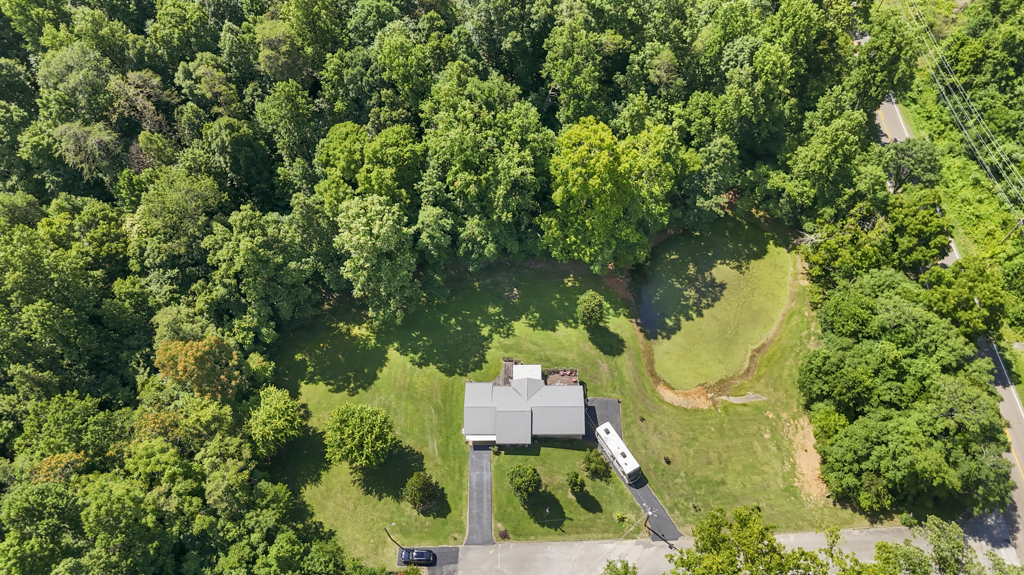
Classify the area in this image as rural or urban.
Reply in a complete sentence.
This place is rural.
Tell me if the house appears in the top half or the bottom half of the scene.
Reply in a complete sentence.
The house sits in the bottom half of the picture.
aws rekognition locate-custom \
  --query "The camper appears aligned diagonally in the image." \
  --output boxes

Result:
[594,423,643,484]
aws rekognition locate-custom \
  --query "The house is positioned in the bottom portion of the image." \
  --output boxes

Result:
[464,365,585,449]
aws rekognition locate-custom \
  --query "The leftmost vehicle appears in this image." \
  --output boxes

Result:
[400,549,434,566]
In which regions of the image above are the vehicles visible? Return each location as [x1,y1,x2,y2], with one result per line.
[594,423,643,484]
[400,549,434,566]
